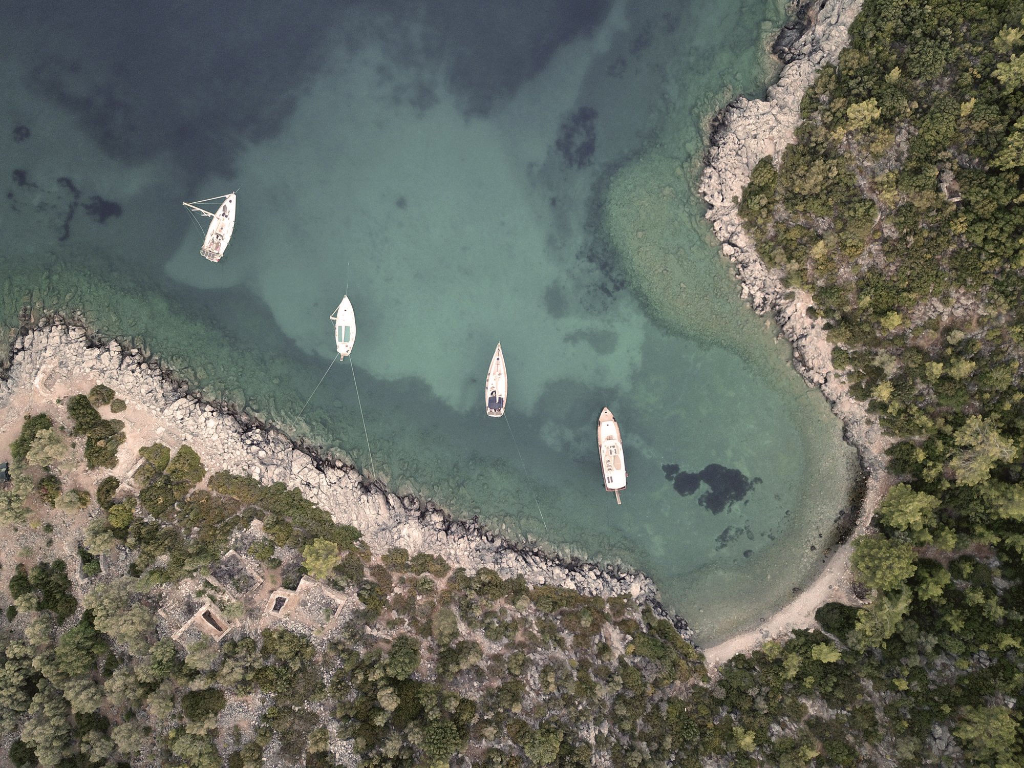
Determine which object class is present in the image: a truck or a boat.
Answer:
boat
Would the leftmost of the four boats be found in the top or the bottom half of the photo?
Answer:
top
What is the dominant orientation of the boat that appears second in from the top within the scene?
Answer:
from top to bottom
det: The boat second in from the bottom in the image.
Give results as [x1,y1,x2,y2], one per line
[485,343,508,417]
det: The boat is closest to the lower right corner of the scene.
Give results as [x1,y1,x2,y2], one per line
[598,406,628,504]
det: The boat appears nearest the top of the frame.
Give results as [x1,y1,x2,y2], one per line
[183,191,238,262]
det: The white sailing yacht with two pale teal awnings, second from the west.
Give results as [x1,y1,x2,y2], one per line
[329,295,356,361]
